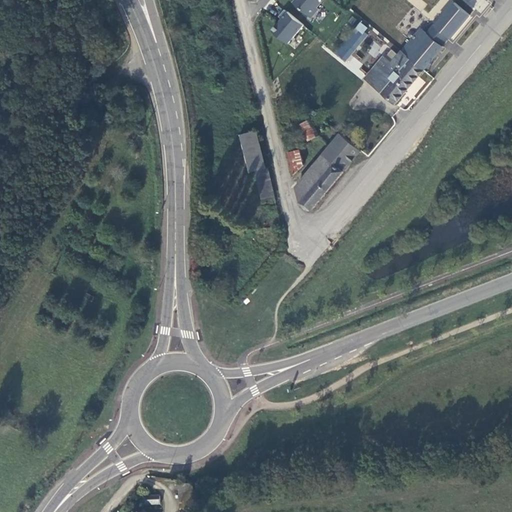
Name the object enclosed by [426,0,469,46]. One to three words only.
house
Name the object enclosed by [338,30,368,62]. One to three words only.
shed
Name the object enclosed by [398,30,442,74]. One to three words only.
house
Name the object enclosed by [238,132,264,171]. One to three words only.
barn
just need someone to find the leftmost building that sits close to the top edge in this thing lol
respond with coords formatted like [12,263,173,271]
[271,13,304,46]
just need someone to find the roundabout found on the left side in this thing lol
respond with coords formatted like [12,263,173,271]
[116,350,258,471]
